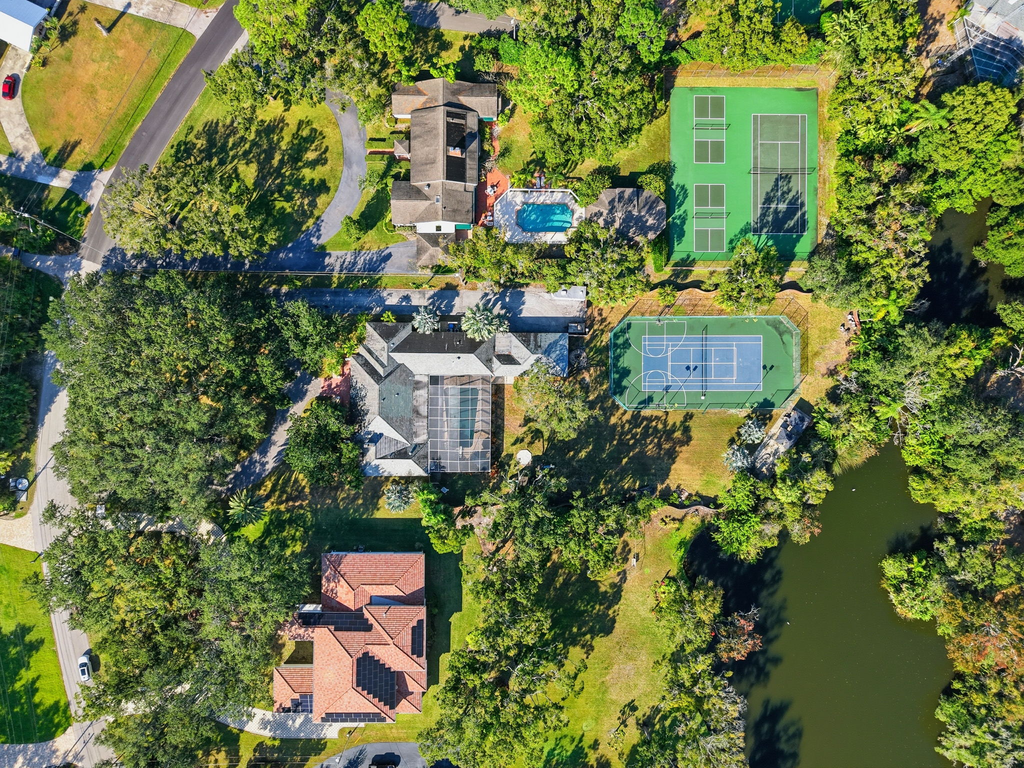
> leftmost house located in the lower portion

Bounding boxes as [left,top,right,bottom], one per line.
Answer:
[273,550,428,723]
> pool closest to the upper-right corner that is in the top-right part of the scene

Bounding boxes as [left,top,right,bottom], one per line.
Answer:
[955,16,1024,89]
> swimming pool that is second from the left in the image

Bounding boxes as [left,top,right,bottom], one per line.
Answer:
[494,191,585,244]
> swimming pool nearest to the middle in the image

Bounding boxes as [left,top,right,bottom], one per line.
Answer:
[429,375,491,473]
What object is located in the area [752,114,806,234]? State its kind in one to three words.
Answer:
tennis court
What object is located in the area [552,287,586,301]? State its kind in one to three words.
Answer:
shed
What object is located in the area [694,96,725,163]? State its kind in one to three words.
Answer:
sports court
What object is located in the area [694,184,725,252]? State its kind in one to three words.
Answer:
sports court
